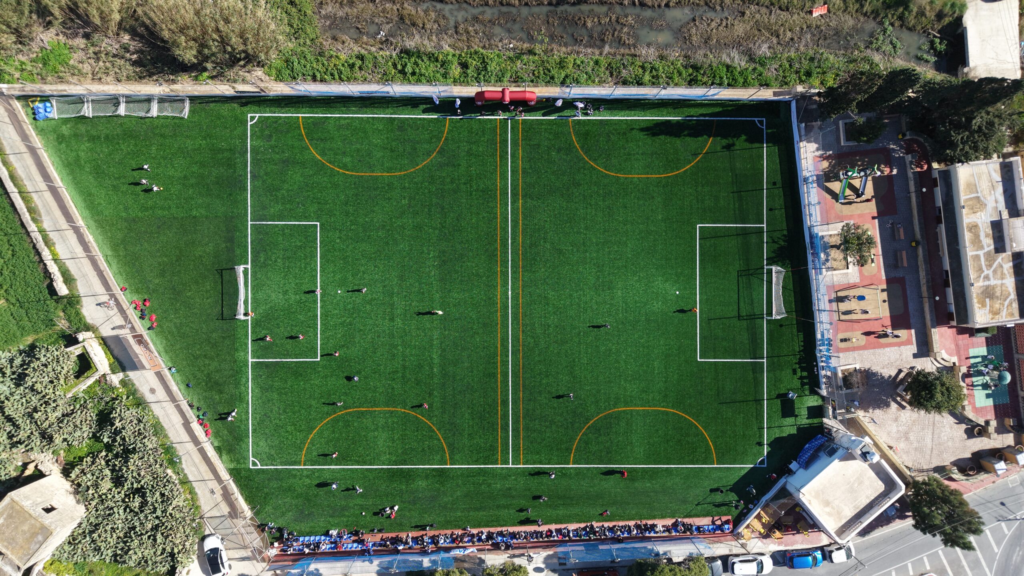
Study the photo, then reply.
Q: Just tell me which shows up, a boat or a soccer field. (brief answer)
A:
soccer field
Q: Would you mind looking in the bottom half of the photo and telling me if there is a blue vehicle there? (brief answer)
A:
Yes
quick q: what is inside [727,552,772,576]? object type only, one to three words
car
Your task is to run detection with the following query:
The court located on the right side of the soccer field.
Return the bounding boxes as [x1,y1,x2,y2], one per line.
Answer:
[932,324,1024,421]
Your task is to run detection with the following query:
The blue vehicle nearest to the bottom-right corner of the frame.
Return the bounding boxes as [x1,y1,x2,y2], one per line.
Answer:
[784,548,822,572]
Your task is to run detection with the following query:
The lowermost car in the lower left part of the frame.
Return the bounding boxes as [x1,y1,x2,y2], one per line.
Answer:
[197,534,226,576]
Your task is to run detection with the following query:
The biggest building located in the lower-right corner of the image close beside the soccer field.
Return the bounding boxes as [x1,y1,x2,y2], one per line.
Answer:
[784,426,907,545]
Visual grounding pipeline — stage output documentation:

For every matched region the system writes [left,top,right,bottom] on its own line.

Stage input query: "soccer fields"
[15,97,824,544]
